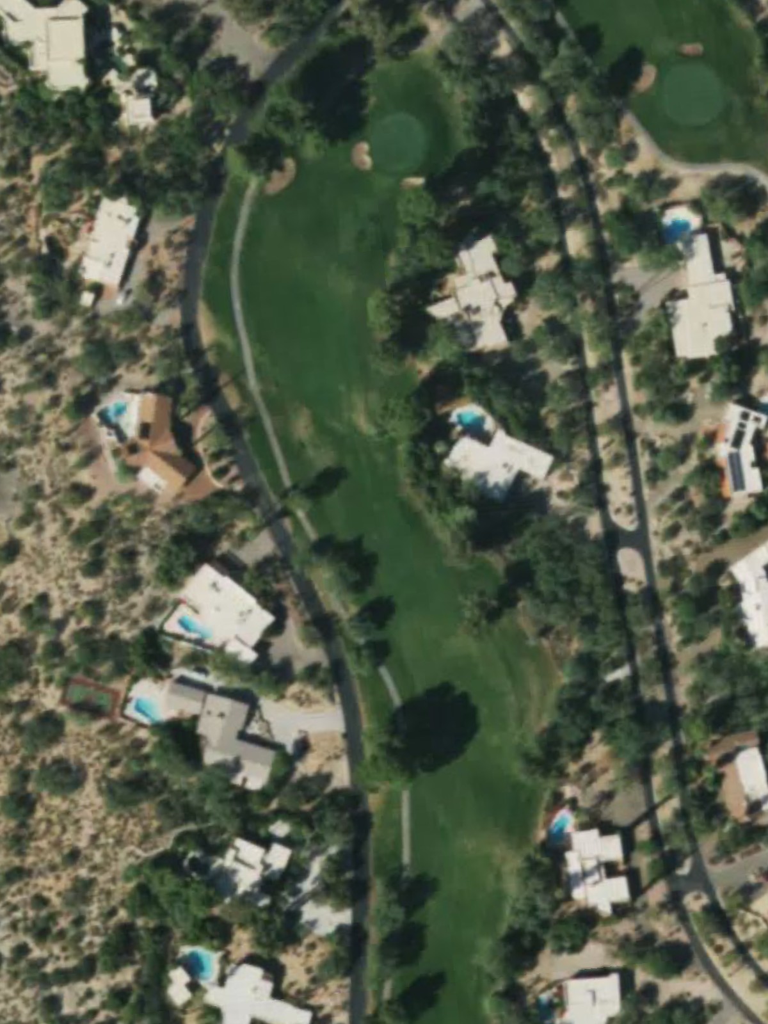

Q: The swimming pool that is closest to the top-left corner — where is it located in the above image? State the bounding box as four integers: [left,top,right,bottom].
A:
[97,401,128,427]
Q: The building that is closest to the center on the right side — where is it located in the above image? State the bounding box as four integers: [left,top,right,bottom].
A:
[446,428,554,499]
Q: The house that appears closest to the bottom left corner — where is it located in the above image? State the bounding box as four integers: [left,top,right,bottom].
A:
[167,967,191,1007]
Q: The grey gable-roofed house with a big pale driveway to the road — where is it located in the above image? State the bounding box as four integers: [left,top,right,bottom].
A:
[167,682,277,791]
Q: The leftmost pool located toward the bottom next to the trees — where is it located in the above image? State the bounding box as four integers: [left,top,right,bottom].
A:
[134,695,164,724]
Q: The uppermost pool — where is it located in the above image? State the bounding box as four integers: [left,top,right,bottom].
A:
[658,218,693,245]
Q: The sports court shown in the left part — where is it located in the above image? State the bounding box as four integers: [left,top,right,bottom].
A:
[63,676,120,718]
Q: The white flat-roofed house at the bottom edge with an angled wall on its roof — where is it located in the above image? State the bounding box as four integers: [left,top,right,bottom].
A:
[563,973,621,1024]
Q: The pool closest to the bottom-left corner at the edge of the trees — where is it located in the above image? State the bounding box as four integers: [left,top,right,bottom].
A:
[183,948,213,982]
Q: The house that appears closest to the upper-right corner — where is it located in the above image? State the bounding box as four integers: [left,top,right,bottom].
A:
[666,232,736,358]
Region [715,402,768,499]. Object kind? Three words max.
house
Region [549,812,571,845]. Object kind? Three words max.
swimming pool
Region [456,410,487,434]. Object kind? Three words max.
swimming pool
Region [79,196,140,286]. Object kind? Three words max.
house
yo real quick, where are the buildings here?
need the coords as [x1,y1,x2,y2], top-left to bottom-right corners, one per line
[565,829,632,917]
[202,965,312,1024]
[269,820,291,838]
[715,402,768,499]
[215,838,292,908]
[127,96,156,127]
[79,196,140,286]
[0,0,88,90]
[167,682,277,791]
[427,234,517,351]
[125,393,195,496]
[80,291,94,306]
[446,428,554,499]
[184,563,275,663]
[719,748,768,820]
[666,232,736,358]
[730,540,768,647]
[563,973,621,1024]
[167,967,191,1007]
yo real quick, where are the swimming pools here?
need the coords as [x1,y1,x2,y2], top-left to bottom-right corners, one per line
[758,401,768,415]
[177,614,213,640]
[549,812,571,845]
[456,410,487,434]
[134,695,164,724]
[658,218,693,245]
[97,401,128,427]
[183,948,213,982]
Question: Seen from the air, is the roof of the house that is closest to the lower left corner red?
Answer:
No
